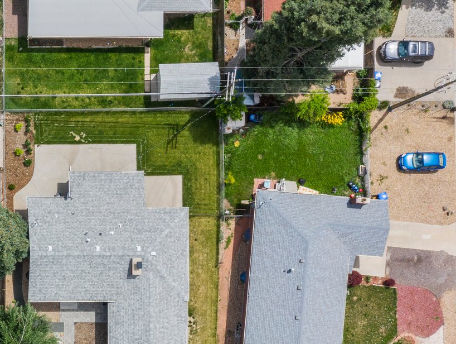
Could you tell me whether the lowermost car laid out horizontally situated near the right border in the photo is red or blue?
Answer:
blue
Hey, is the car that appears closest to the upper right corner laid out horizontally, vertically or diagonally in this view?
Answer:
horizontally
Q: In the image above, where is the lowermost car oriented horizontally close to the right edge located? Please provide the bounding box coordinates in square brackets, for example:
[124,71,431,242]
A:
[395,149,446,173]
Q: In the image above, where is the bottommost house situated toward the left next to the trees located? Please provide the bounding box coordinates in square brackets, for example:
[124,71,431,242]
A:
[26,170,190,344]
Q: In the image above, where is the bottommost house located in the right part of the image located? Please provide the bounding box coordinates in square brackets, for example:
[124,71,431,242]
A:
[239,189,391,344]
